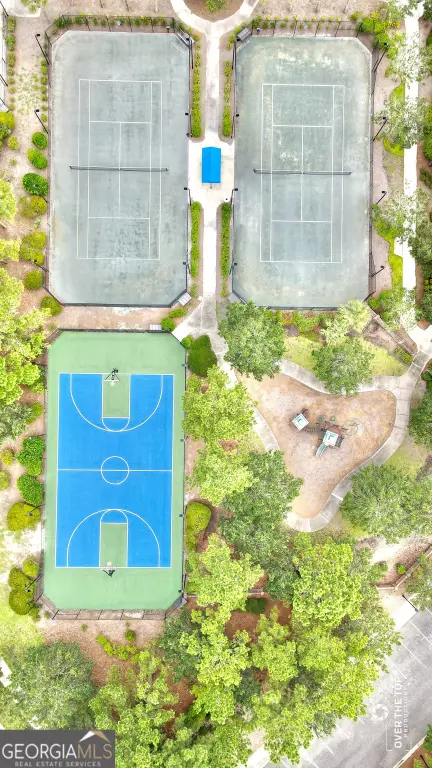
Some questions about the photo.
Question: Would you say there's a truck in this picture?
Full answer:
No, no truck is visible in the view.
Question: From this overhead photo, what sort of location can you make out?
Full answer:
This looks like a sports ground.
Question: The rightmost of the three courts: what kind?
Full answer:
What you see as the rightmost of the three courts is a tennis court.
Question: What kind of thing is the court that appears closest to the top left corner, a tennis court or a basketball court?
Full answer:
It looks like the court that appears closest to the top left corner is a tennis court.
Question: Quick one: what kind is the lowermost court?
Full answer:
The lowermost court appears to be a basketball court.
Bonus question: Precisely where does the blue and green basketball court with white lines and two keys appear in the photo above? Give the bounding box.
[44,331,186,610]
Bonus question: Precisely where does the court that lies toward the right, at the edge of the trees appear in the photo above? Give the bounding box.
[234,36,371,307]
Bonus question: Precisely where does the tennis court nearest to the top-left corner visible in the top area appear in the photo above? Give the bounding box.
[49,31,190,304]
